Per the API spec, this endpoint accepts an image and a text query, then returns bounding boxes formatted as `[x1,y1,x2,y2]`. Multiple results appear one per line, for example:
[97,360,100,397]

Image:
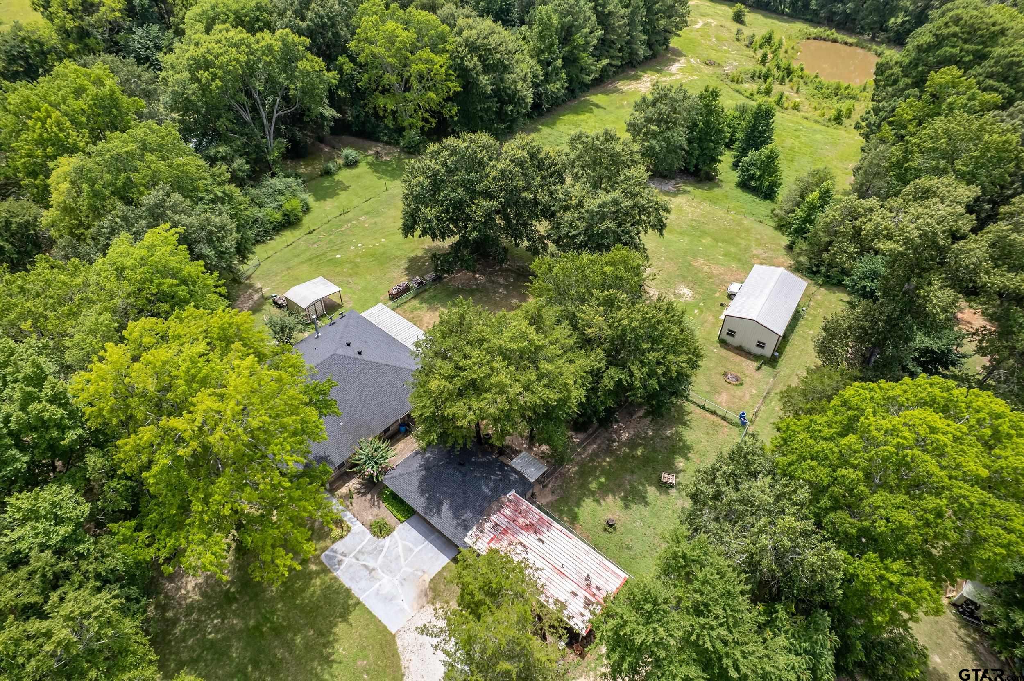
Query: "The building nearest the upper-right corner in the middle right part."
[716,264,809,360]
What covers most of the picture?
trees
